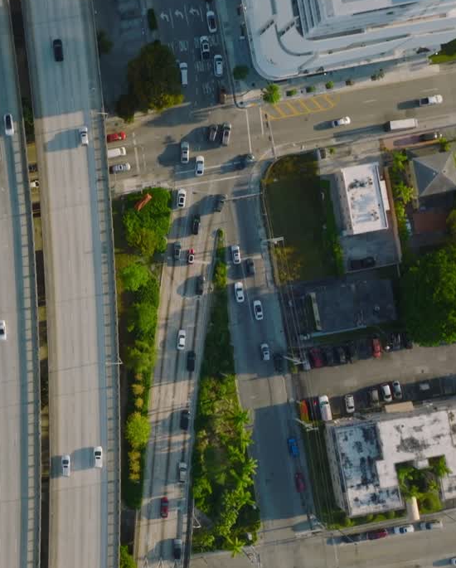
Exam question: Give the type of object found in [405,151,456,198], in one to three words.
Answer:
house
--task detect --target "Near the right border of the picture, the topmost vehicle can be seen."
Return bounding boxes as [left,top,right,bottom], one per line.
[415,94,440,107]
